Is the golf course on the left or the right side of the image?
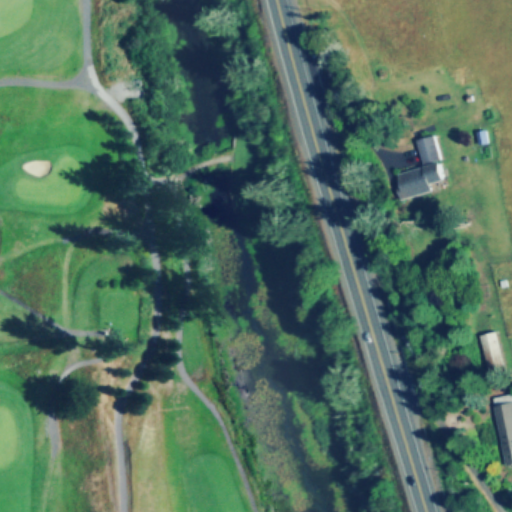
left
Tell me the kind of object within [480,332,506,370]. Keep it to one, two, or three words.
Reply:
barn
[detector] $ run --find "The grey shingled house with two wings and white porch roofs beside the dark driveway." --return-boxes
[395,135,448,200]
